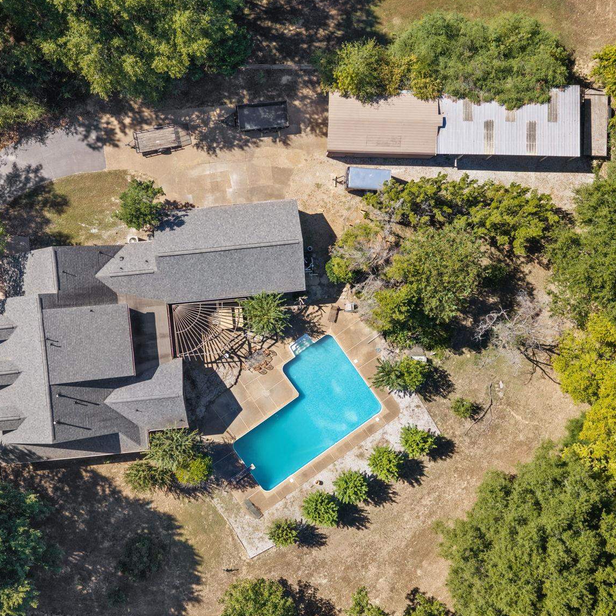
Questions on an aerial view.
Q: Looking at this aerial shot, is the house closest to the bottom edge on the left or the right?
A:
left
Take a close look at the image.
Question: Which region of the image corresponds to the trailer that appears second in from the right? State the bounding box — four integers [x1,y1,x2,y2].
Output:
[220,102,290,144]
